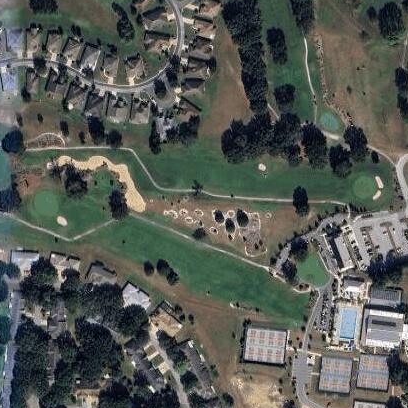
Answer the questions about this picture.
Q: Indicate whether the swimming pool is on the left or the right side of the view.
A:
right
